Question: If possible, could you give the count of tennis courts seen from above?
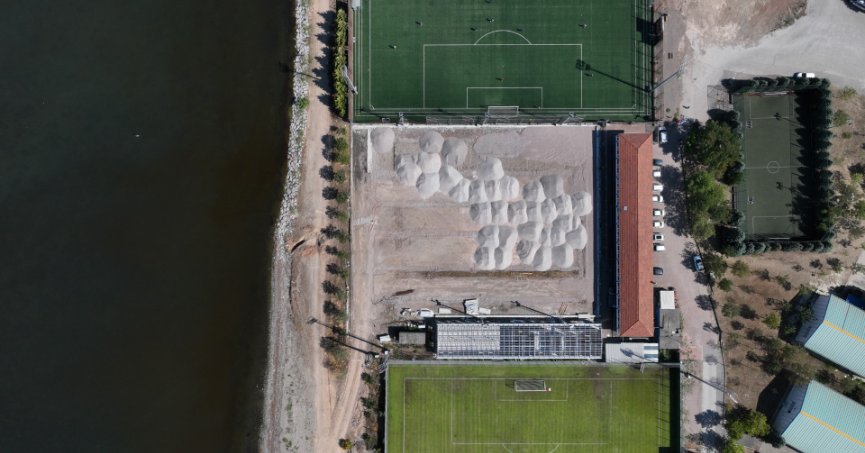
none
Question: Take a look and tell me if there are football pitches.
Yes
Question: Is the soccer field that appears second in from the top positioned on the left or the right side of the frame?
right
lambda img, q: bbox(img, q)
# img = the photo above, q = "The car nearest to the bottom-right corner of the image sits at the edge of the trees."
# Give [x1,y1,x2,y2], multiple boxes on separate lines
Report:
[692,254,705,273]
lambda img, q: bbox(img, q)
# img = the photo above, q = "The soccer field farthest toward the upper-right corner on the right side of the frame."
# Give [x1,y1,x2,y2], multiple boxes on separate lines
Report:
[732,94,812,241]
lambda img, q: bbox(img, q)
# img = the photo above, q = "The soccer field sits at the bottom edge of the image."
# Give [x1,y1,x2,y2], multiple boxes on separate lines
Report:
[389,366,681,453]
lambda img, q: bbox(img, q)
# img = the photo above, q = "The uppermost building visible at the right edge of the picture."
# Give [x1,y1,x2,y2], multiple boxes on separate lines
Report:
[797,293,865,379]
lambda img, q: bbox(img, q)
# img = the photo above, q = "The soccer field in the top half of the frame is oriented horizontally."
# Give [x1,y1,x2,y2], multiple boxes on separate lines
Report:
[353,0,653,124]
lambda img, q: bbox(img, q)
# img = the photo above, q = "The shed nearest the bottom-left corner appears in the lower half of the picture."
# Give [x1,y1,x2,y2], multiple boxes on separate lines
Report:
[399,331,425,345]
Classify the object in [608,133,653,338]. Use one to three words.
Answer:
building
